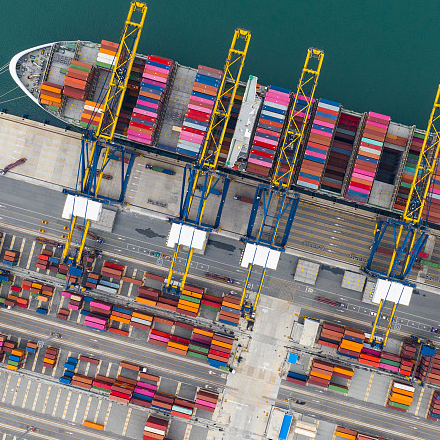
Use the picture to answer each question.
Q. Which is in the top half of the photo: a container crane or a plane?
container crane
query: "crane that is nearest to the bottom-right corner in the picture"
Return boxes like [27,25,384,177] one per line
[403,336,437,385]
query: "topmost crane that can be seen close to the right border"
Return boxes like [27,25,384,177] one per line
[362,80,440,356]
